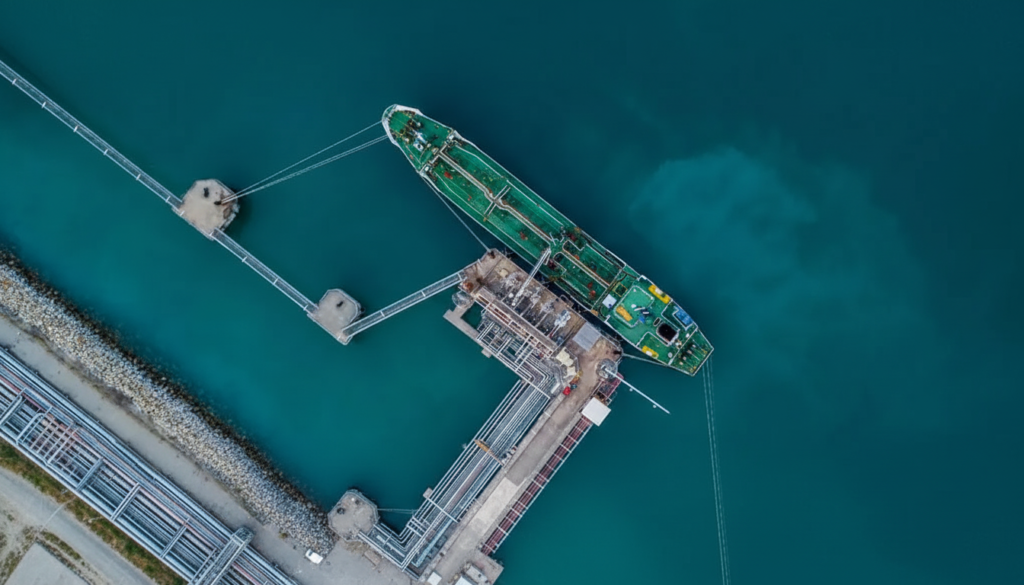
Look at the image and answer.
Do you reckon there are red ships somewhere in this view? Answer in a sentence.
No, I find no red ship anywhere in the image.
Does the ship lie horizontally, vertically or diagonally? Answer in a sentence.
The ship has been laid out diagonally relative to the frame.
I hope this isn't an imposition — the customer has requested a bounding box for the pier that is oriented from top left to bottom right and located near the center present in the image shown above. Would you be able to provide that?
[445,306,521,381]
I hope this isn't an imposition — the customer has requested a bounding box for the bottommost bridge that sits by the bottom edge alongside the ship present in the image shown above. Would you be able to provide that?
[406,393,585,585]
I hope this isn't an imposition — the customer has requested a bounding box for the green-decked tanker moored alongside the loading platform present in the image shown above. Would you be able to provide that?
[376,105,714,375]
